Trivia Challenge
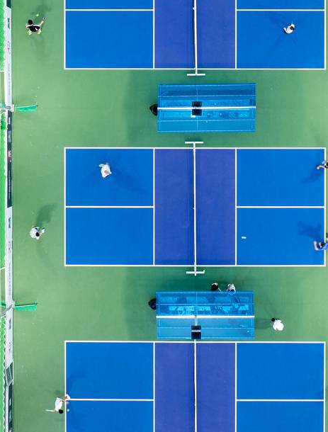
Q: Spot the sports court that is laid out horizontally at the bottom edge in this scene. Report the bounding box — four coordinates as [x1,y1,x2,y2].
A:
[65,342,326,432]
